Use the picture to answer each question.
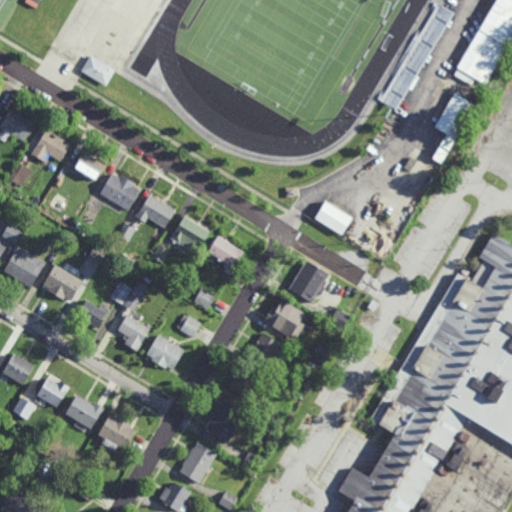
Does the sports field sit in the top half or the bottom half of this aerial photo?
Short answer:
top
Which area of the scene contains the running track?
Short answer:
top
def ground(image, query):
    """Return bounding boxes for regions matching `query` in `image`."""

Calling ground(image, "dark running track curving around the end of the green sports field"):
[132,0,427,155]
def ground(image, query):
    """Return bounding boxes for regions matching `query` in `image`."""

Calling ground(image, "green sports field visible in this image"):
[175,0,407,132]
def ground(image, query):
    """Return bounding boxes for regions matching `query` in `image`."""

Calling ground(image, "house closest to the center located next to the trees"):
[208,237,244,270]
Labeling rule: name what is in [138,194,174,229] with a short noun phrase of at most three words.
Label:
house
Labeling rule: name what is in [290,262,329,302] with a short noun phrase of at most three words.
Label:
house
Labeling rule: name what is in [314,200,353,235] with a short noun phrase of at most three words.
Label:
shed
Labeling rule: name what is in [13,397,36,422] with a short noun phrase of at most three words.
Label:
building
